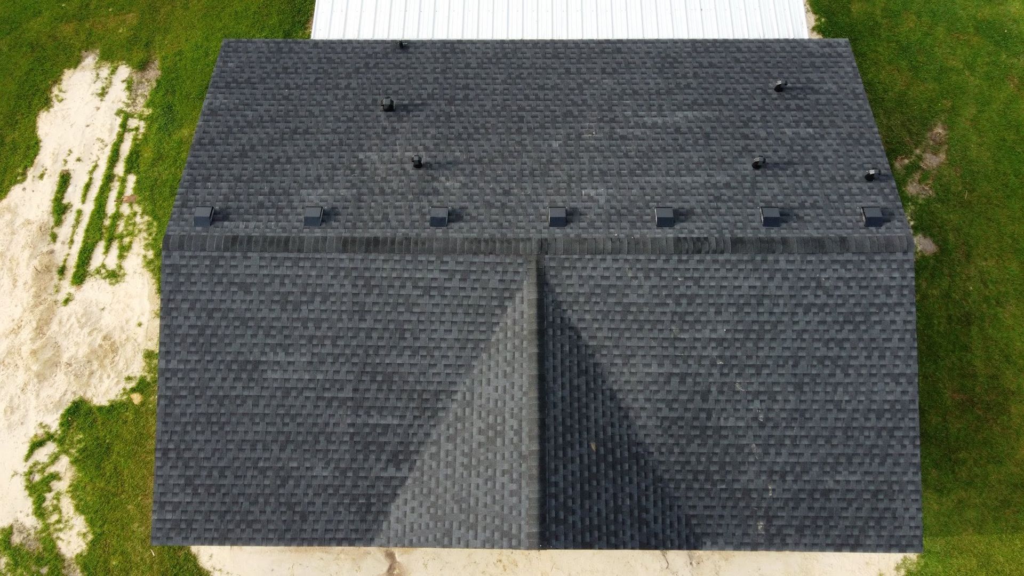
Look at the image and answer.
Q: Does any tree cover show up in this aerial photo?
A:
No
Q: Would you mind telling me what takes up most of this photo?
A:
buildings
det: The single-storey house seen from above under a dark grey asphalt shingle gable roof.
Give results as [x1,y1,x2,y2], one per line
[151,37,924,554]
